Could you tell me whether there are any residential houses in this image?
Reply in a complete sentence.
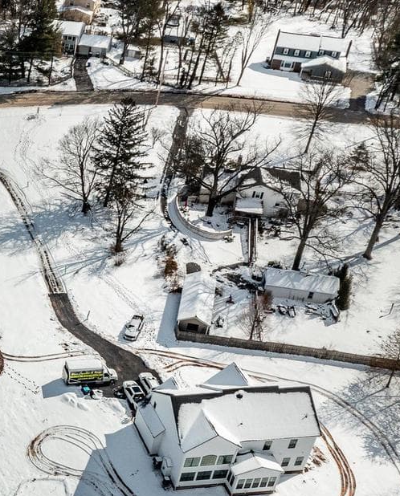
Yes, this view includes a residential house.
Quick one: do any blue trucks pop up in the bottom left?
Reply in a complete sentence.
No, the scene shows no blue truck in the bottom left.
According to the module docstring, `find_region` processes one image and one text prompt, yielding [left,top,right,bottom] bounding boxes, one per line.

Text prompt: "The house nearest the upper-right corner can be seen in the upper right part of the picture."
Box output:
[261,26,360,78]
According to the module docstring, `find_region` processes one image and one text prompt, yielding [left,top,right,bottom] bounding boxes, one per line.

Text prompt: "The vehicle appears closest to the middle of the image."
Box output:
[124,311,146,337]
